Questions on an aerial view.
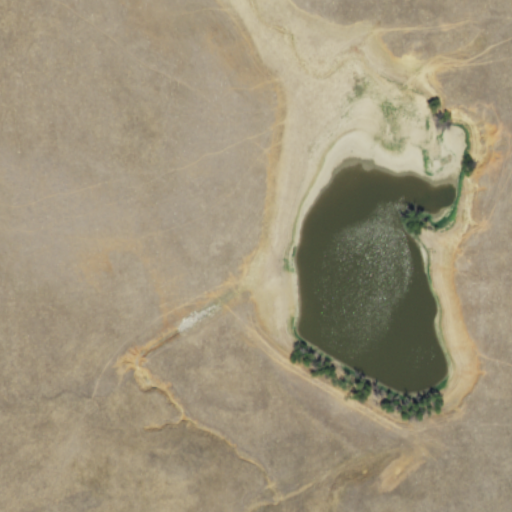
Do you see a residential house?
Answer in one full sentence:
No, the picture doesn't show any residential house.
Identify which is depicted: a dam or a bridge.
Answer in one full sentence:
The image shows a dam.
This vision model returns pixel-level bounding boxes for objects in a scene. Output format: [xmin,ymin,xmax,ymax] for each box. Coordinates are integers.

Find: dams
[212,291,430,442]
